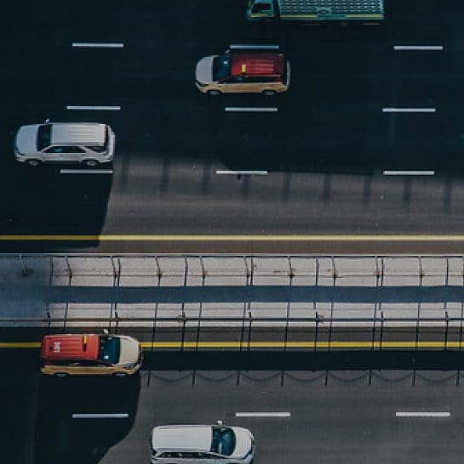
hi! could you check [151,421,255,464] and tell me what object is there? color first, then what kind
white car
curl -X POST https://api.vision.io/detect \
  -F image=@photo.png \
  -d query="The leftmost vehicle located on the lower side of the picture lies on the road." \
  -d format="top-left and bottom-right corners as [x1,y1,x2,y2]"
[42,329,143,378]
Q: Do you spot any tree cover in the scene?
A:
No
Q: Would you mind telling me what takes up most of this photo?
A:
paved ground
